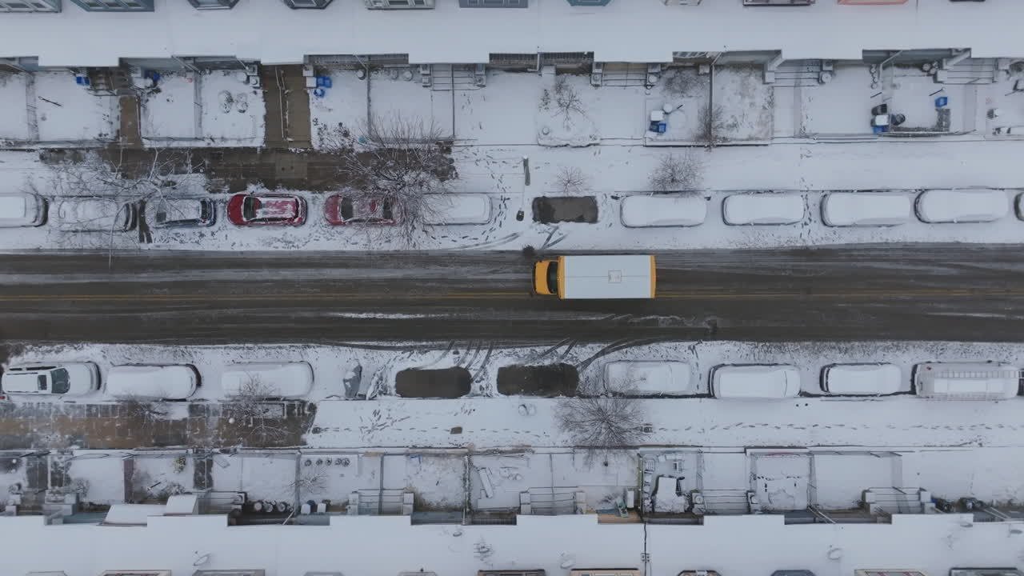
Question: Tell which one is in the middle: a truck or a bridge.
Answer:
truck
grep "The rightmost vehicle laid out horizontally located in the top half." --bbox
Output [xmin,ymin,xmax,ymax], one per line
[911,188,1012,225]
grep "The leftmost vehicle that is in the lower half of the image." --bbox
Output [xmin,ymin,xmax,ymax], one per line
[0,362,105,401]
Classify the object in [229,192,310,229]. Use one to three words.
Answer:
car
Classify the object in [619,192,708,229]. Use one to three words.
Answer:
vehicle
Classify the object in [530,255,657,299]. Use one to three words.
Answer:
truck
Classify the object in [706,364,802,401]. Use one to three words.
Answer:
car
